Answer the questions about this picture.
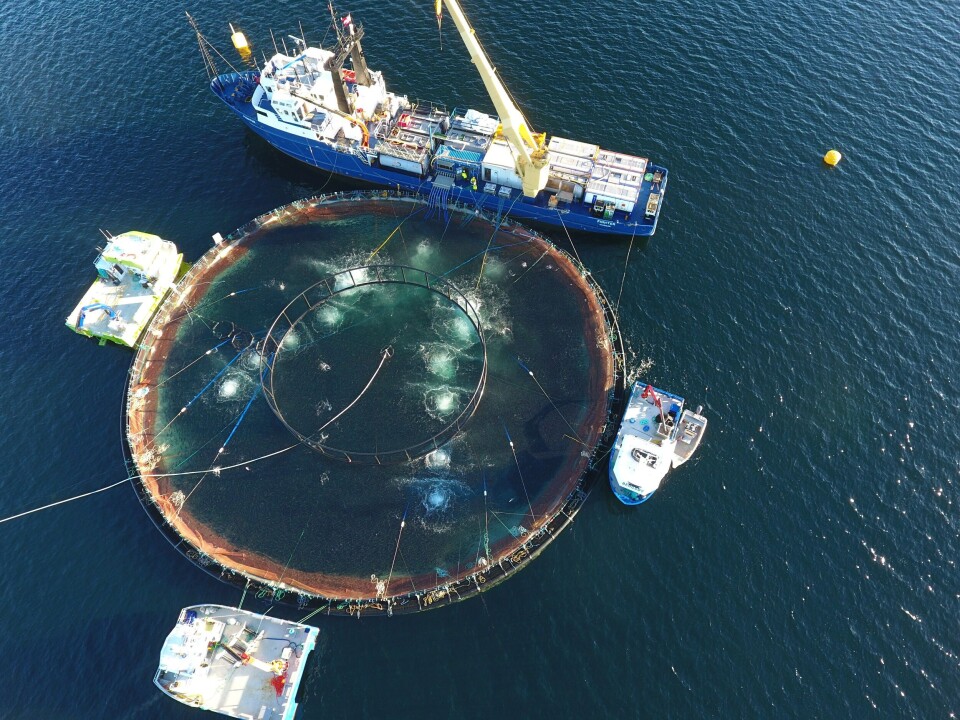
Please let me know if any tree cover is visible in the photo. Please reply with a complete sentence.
No, the scene doesn't show any tree cover.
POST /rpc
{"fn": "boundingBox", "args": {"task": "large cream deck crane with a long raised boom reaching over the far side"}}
[435,0,558,196]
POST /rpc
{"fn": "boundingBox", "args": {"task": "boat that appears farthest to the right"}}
[673,406,708,471]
